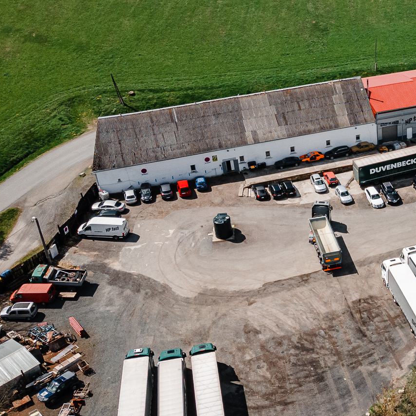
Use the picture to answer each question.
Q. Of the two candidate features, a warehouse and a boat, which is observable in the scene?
warehouse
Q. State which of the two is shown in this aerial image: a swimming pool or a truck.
truck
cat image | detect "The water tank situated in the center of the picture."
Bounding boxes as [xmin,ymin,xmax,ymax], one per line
[210,214,237,245]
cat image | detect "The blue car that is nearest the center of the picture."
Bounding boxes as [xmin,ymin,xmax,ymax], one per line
[193,174,208,191]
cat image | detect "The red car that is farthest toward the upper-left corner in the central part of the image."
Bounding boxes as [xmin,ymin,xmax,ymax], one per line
[175,181,191,198]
